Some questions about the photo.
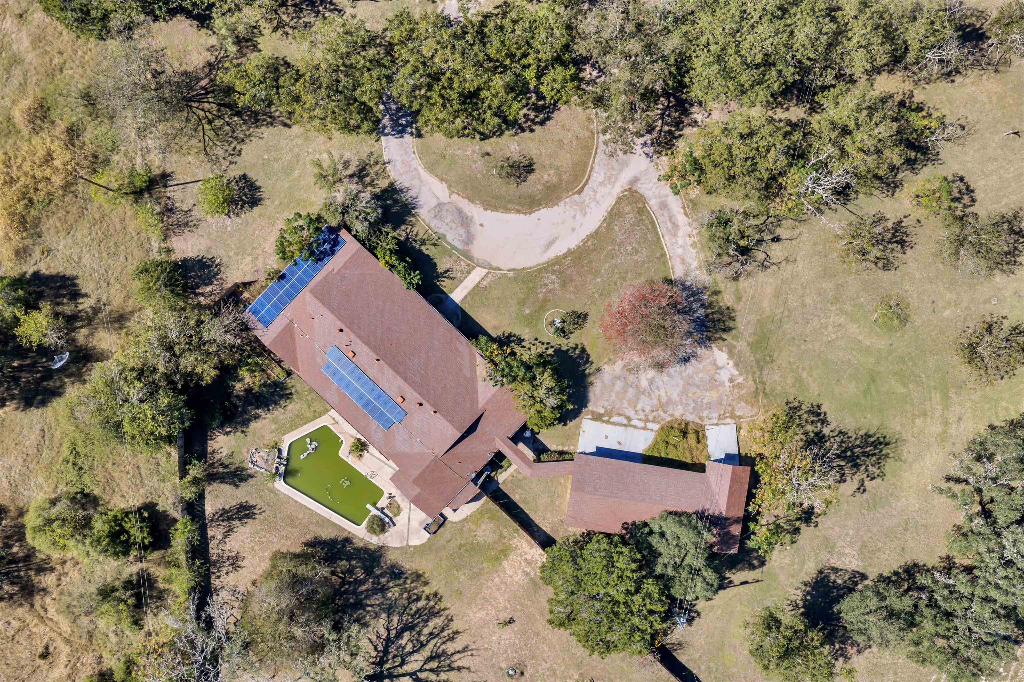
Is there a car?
No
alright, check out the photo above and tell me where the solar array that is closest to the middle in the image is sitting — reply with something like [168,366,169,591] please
[321,345,406,431]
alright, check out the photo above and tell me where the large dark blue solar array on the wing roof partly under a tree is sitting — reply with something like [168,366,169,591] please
[248,224,345,326]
